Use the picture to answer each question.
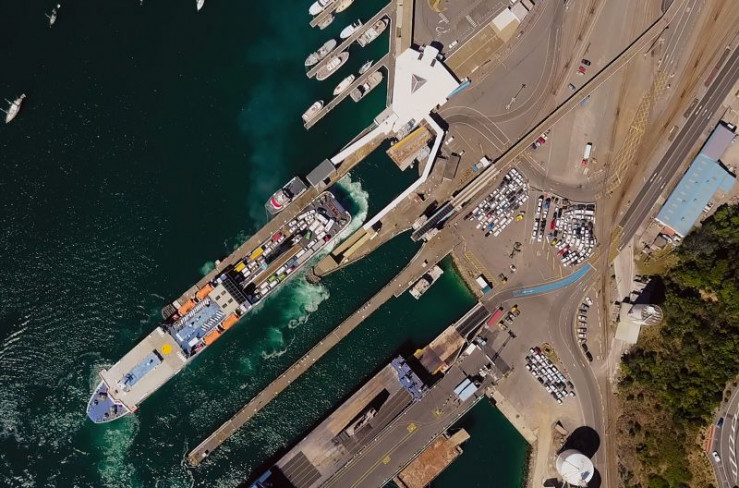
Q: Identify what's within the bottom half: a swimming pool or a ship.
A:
ship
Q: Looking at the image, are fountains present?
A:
No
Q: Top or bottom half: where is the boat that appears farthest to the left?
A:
top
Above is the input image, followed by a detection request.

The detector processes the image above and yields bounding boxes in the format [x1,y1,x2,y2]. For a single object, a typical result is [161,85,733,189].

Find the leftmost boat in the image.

[1,95,25,123]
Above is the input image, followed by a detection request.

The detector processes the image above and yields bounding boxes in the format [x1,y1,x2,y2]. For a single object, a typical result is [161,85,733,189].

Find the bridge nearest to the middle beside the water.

[408,196,461,244]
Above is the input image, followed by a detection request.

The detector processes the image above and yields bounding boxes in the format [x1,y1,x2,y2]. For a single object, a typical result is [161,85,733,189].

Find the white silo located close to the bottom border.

[554,446,595,488]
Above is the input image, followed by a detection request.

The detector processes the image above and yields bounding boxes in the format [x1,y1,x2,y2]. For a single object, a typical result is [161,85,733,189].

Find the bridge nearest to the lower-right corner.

[414,302,491,374]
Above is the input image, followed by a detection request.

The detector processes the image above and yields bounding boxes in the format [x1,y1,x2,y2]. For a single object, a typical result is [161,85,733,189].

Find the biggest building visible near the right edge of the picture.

[652,153,735,237]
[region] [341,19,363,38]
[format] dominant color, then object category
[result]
white boat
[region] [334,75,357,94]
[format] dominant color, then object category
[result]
white boat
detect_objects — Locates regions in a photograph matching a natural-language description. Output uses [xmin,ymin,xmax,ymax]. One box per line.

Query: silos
[626,303,663,327]
[554,446,595,488]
